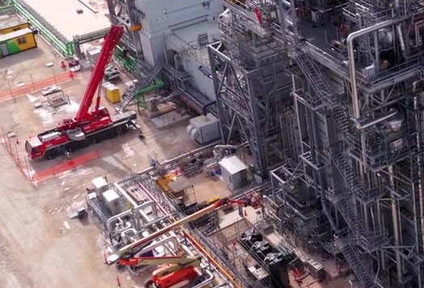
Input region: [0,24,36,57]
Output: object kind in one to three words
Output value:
building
